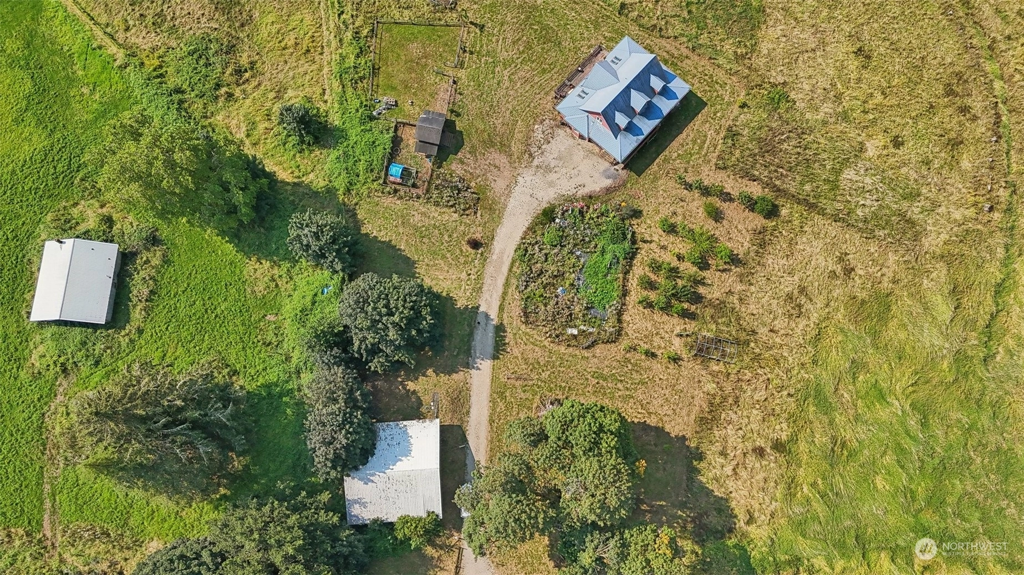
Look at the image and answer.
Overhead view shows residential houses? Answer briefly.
Yes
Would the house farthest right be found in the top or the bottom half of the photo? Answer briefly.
top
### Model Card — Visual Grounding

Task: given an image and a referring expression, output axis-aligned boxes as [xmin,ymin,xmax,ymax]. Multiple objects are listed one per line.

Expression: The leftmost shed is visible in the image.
[29,238,126,324]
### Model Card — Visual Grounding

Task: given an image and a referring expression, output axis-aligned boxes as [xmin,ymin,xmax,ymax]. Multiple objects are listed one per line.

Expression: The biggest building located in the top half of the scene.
[553,35,691,167]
